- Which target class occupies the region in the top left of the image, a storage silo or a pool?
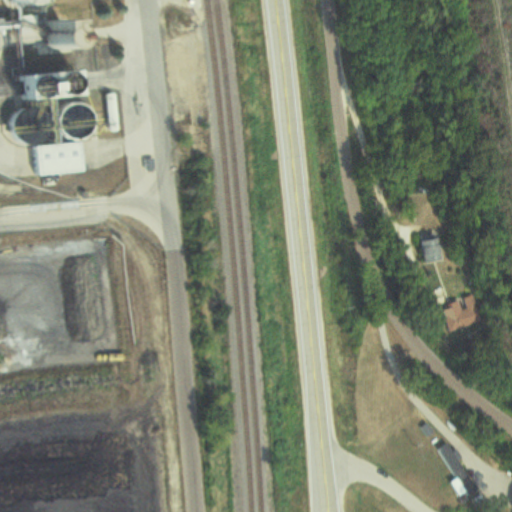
storage silo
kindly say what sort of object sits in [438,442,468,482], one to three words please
house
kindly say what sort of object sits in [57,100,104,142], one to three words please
storage tank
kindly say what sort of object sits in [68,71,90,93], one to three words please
silo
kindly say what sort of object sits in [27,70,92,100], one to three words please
building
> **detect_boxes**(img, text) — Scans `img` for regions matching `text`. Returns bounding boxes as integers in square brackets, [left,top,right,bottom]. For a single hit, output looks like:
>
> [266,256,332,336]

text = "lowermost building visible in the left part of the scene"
[34,142,85,186]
